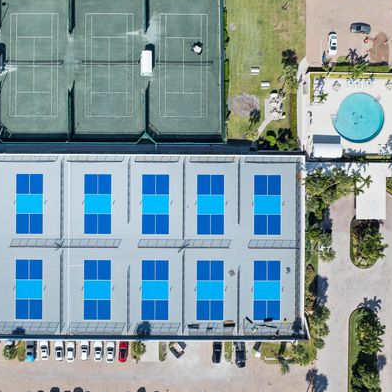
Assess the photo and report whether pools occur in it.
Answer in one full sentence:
Yes, the image includes a pool.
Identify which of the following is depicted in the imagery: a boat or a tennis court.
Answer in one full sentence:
This aerial view contains a tennis court.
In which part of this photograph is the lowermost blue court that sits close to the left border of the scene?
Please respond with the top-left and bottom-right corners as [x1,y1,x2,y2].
[13,259,45,319]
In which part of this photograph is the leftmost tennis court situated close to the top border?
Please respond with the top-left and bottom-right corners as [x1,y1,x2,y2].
[0,0,71,143]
